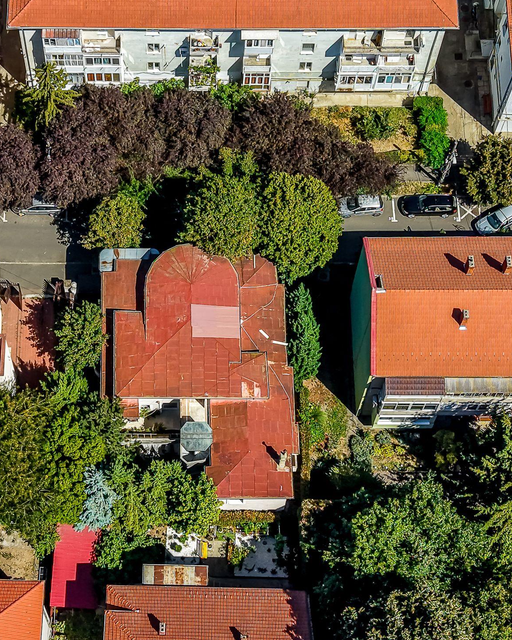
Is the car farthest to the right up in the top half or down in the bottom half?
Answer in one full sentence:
Seen from above, the car farthest to the right lies in the top half of the view.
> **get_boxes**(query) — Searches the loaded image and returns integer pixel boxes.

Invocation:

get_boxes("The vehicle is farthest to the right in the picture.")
[471,202,512,237]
